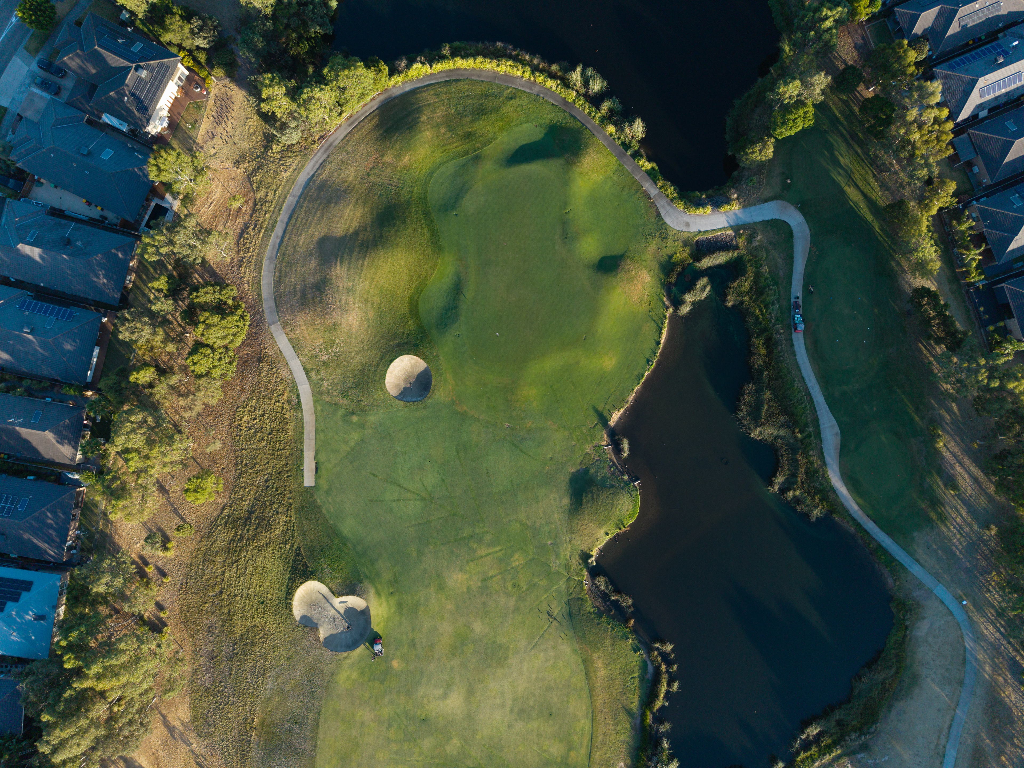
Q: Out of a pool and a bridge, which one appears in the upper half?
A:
pool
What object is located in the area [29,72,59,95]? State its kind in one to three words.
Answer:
car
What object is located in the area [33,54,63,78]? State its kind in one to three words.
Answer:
car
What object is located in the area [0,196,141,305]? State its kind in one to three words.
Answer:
house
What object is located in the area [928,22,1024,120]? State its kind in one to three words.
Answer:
house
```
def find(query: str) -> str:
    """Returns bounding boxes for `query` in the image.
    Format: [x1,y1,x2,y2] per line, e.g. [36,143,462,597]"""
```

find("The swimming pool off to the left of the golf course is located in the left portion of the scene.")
[142,196,178,221]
